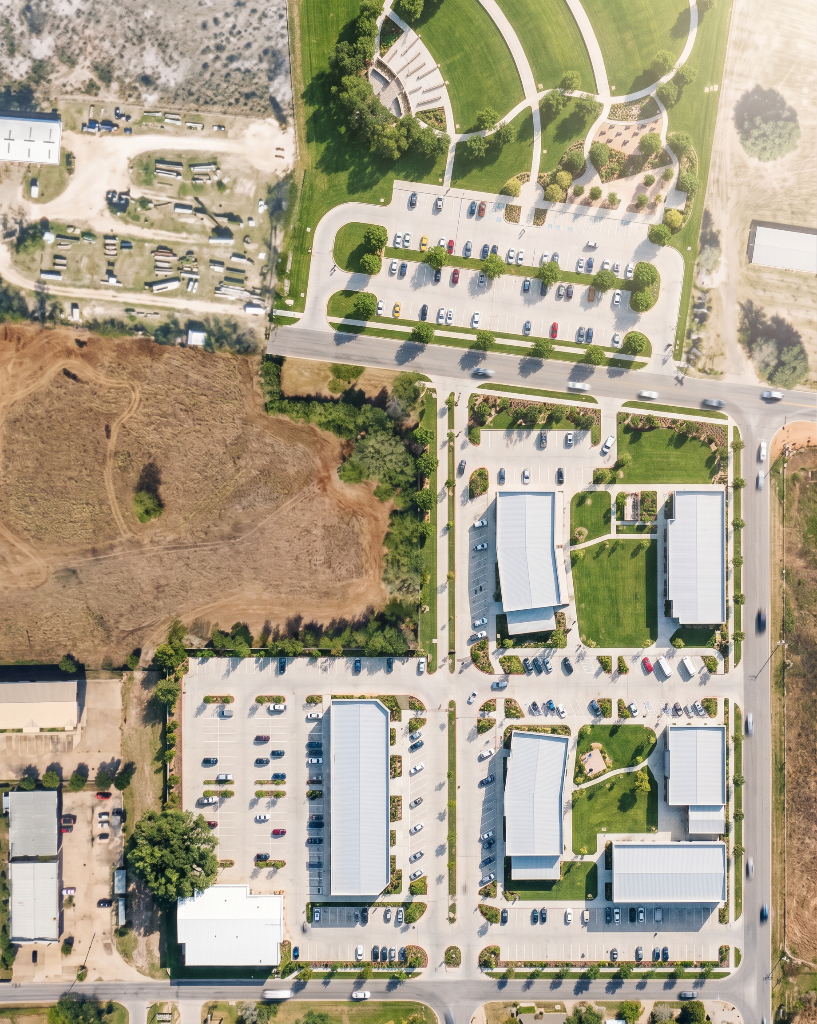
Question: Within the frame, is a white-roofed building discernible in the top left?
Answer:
Yes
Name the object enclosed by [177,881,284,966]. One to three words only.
building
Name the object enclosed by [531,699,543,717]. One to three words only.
vehicle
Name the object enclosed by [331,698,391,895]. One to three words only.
building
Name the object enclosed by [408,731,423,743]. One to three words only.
vehicle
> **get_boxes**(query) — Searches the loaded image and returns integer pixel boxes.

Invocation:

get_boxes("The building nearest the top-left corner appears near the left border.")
[0,117,62,167]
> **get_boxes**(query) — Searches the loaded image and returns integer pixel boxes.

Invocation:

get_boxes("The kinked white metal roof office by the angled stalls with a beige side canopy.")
[496,491,570,635]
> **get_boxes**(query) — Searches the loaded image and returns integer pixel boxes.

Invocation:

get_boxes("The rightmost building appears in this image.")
[751,226,817,274]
